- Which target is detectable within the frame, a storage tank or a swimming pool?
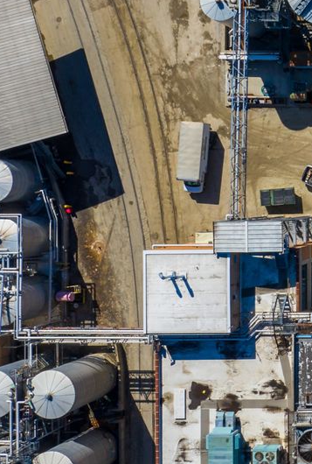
storage tank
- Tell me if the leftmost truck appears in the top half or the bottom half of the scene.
top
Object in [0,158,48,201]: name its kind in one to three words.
storage tank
